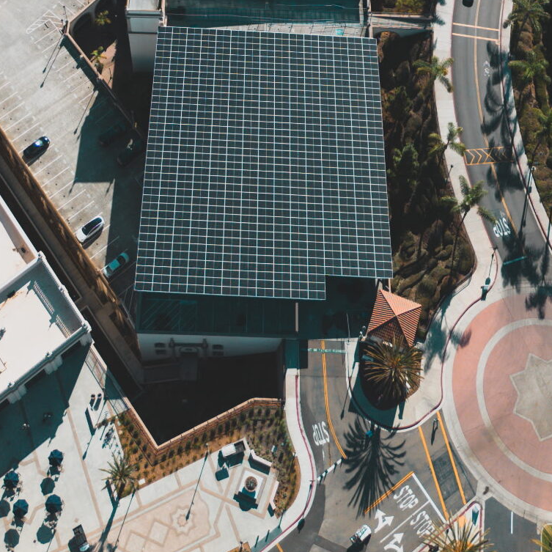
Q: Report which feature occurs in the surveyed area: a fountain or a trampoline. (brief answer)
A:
fountain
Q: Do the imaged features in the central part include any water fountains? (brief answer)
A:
No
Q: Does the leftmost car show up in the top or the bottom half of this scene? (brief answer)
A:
top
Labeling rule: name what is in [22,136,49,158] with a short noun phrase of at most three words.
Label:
car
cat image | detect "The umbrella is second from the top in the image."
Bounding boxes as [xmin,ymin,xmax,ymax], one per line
[2,471,20,489]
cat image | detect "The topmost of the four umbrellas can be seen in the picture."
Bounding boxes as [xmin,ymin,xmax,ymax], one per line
[48,449,64,466]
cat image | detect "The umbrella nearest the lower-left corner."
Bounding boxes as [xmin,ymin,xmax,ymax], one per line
[12,500,29,518]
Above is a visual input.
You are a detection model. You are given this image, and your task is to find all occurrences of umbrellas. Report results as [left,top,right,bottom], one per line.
[45,494,63,514]
[48,449,64,466]
[12,500,29,518]
[2,471,20,489]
